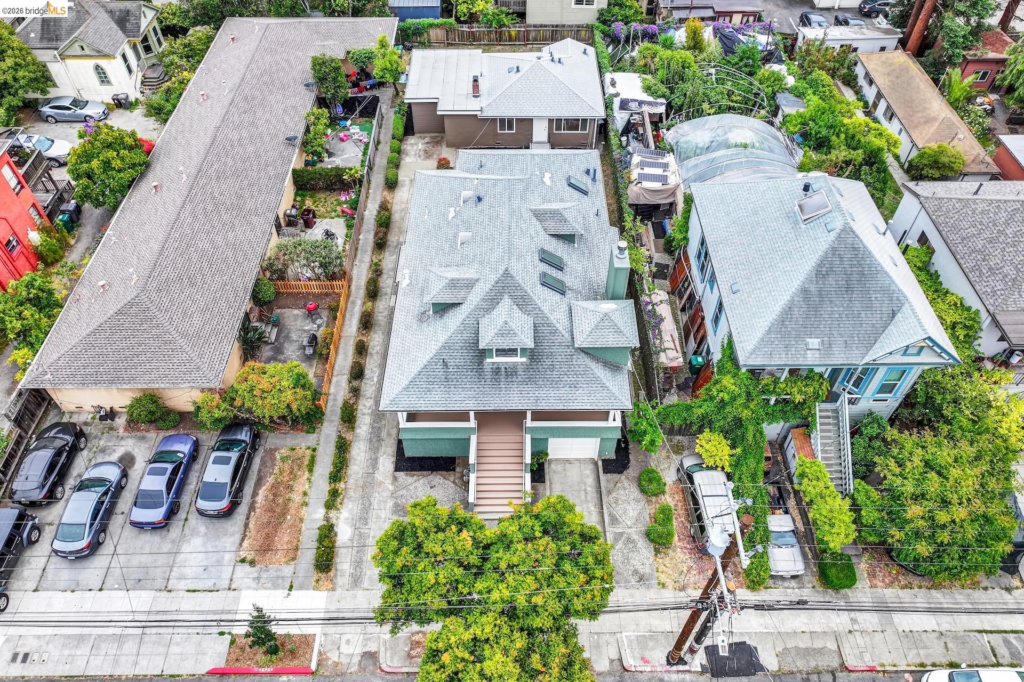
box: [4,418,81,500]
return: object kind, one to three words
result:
car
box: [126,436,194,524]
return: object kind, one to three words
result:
car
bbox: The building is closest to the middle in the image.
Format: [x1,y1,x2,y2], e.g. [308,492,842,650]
[377,152,642,519]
